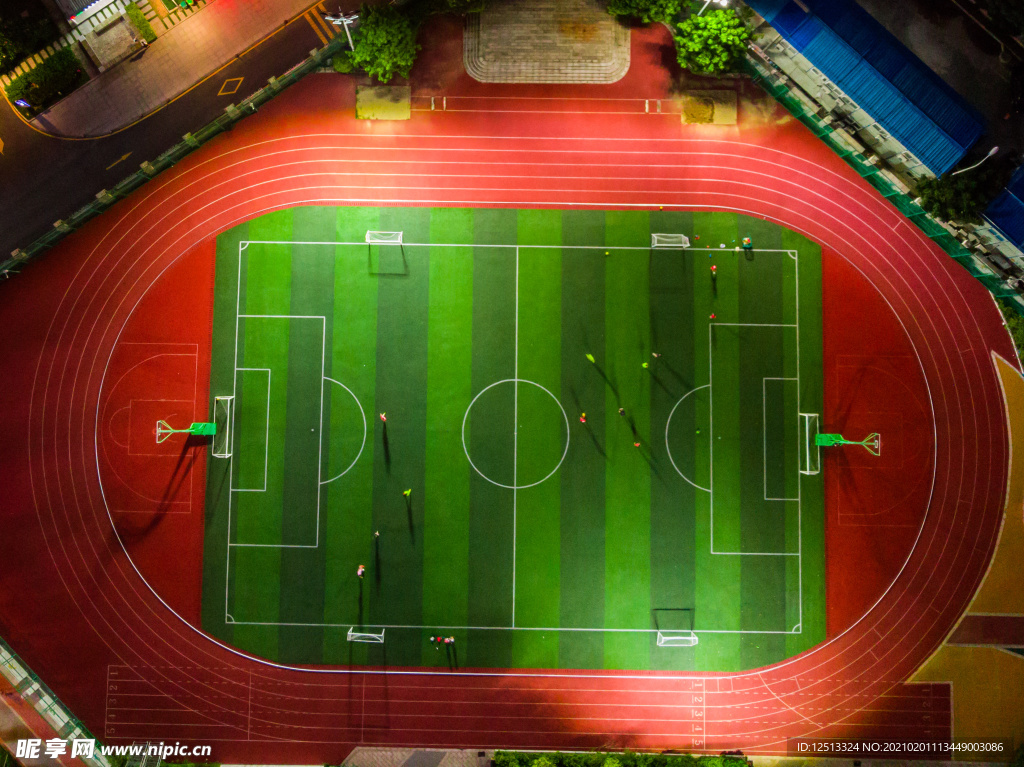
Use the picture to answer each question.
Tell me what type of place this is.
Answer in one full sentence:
This image shows a sports ground.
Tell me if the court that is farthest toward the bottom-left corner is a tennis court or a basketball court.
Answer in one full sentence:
The court that is farthest toward the bottom-left corner in the image is a basketball court.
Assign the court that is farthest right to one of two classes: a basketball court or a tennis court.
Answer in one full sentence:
In the photo, the court that is farthest right shows up as a basketball court.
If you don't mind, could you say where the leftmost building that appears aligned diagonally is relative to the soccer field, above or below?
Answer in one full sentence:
In the image, the leftmost building that appears aligned diagonally sits above the soccer field.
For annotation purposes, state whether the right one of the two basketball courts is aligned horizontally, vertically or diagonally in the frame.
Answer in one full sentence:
The right one of the two basketball courts runs vertically in the image.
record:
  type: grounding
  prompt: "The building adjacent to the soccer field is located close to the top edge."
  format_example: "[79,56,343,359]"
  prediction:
[715,0,989,186]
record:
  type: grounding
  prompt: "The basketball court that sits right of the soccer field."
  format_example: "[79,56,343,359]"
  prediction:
[821,239,935,645]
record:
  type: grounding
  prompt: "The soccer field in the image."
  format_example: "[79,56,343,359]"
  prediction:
[201,208,826,669]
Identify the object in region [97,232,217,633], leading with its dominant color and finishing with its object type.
red basketball court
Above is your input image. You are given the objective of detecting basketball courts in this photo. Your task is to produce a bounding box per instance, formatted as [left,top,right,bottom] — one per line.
[821,239,935,645]
[97,232,217,633]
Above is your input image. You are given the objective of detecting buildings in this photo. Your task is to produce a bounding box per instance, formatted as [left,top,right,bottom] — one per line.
[958,180,1024,283]
[715,0,989,186]
[58,0,119,25]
